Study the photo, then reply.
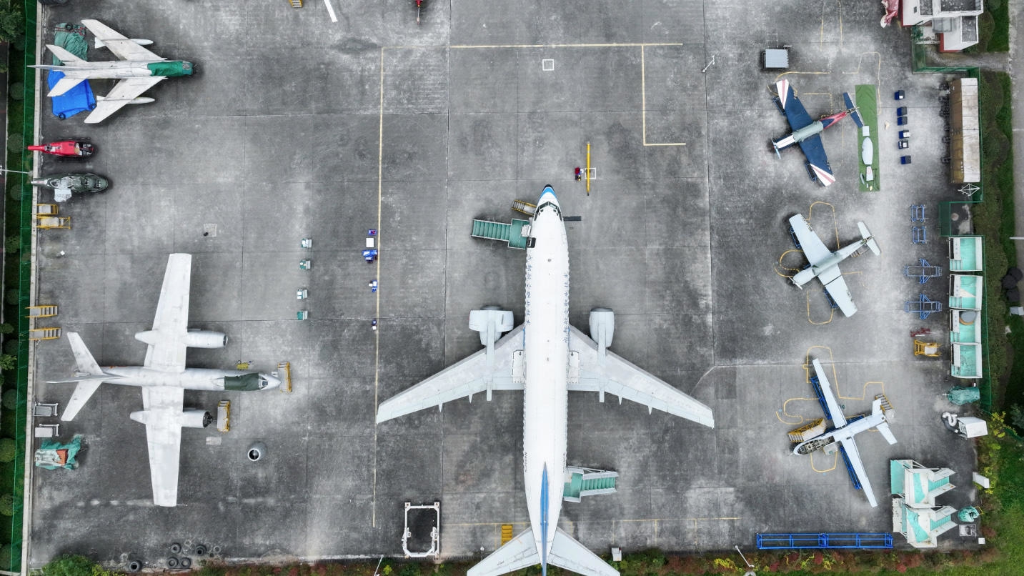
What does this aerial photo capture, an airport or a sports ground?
airport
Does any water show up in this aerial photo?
No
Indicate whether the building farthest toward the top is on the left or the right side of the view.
right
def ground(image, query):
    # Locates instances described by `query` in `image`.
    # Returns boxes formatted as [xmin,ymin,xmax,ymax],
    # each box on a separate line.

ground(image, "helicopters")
[26,138,95,163]
[30,173,110,202]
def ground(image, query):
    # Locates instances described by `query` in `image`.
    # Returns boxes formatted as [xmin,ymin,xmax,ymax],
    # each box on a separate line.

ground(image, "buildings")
[950,77,980,184]
[899,0,982,51]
